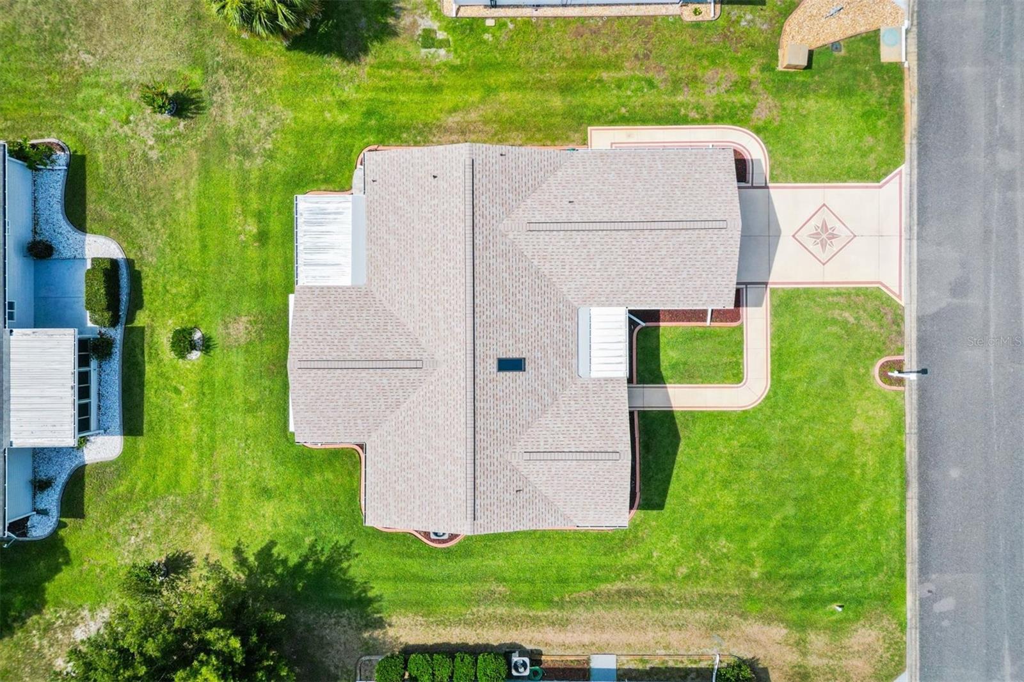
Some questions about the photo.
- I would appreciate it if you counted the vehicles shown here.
0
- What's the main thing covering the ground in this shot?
grass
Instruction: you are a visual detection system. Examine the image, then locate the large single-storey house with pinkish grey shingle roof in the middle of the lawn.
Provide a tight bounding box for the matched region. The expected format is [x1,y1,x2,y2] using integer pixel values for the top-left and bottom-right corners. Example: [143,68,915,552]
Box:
[287,142,741,535]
